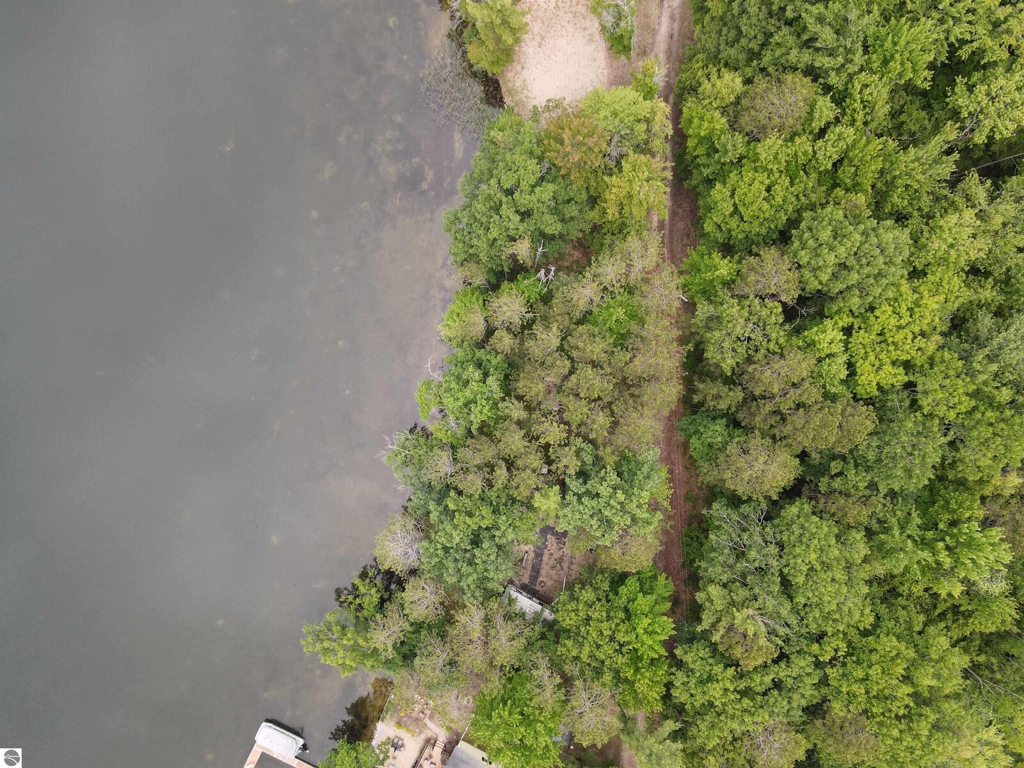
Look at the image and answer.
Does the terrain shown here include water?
Yes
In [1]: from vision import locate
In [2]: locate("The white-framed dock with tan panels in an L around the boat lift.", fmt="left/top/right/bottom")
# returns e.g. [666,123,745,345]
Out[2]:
[244,740,309,768]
